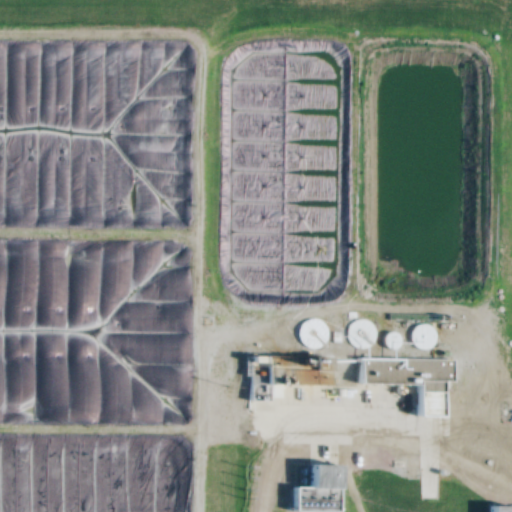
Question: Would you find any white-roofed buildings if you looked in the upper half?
No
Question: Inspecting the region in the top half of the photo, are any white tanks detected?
No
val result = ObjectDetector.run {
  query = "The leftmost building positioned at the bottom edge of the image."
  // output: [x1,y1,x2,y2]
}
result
[290,464,348,512]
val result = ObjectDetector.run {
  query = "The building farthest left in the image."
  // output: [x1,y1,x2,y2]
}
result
[246,356,273,400]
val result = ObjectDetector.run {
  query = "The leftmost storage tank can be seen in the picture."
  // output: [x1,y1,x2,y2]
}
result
[298,318,330,350]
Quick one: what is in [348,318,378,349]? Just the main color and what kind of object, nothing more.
white storage tank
